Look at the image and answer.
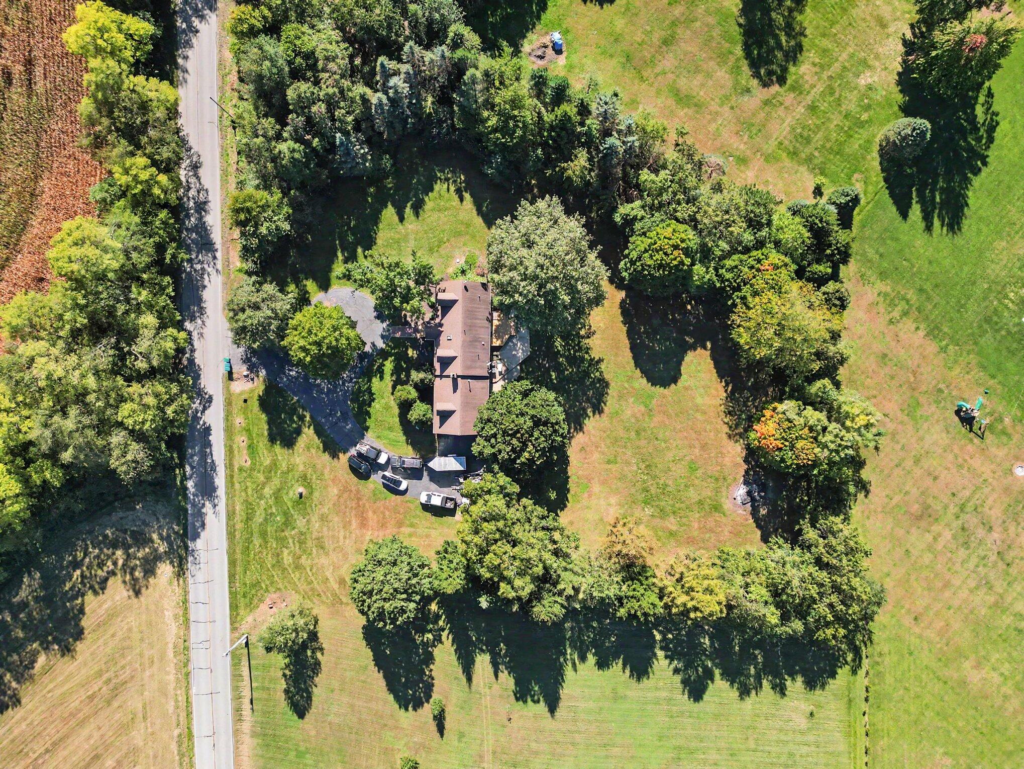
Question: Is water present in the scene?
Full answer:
No, there is no water in the image.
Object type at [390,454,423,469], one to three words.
car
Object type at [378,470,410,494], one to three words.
car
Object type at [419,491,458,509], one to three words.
vehicle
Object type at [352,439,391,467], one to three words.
truck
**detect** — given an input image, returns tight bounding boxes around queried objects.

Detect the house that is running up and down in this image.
[425,280,491,434]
